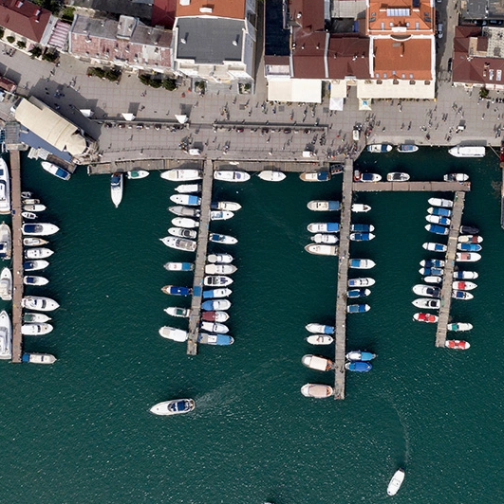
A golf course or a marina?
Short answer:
marina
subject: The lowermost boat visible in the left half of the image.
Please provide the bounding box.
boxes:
[150,398,196,415]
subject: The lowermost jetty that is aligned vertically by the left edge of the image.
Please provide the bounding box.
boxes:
[9,143,24,362]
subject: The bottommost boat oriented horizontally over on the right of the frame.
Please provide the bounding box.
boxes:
[301,384,332,399]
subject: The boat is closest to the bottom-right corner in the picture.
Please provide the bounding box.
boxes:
[387,469,405,495]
